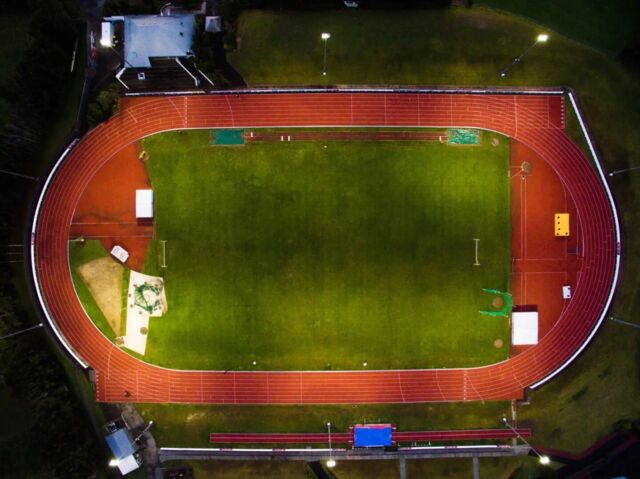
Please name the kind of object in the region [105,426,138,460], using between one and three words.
shed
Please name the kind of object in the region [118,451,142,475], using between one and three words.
shed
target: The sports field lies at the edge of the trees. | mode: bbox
[69,127,583,371]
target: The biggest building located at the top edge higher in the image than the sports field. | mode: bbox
[124,14,197,69]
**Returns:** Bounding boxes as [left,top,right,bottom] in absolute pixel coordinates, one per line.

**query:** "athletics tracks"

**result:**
[36,93,615,405]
